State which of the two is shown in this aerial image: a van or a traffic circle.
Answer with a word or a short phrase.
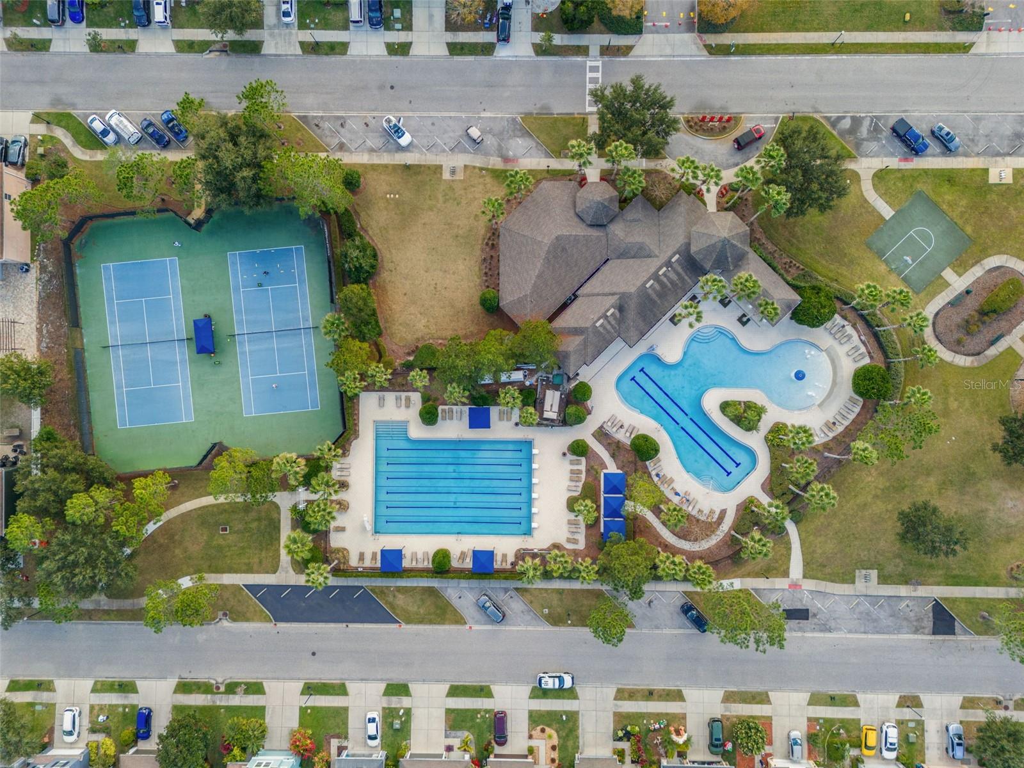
van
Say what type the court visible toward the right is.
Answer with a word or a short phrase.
basketball court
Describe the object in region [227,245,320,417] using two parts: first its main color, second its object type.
blue tennis court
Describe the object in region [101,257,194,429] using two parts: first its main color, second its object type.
blue tennis court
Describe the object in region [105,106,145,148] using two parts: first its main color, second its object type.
white van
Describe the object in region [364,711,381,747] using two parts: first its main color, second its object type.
white car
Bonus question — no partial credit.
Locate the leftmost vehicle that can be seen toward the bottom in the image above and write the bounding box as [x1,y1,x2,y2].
[62,706,81,742]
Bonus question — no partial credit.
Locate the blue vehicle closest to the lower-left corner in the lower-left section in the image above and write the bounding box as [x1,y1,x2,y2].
[135,706,153,741]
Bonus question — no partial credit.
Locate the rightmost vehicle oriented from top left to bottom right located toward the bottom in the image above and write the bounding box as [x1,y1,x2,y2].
[679,600,710,635]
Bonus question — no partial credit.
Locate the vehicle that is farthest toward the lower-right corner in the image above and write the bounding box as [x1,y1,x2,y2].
[945,721,966,760]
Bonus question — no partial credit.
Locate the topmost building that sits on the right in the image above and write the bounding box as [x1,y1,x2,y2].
[499,181,802,378]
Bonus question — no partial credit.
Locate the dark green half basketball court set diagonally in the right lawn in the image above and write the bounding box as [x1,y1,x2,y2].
[866,190,972,293]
